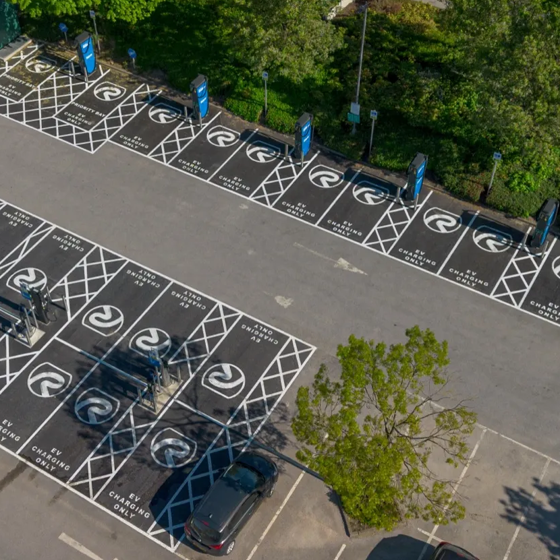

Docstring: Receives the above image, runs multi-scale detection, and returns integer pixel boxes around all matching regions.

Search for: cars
[428,540,483,560]
[185,452,281,560]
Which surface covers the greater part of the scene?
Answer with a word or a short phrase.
paved ground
